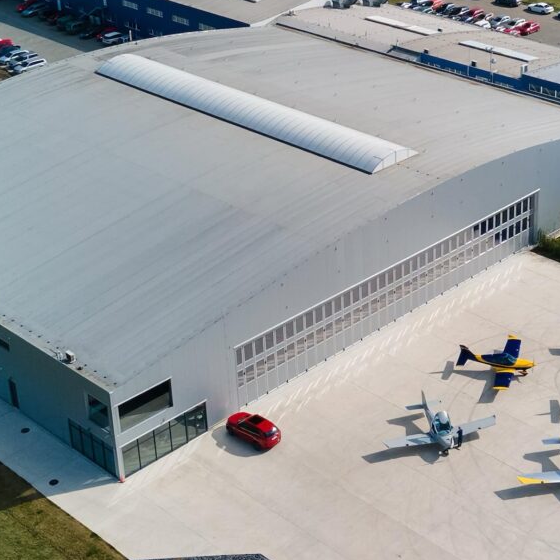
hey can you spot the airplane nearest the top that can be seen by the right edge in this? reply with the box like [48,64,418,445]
[457,335,537,389]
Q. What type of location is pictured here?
airport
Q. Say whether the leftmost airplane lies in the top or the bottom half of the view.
bottom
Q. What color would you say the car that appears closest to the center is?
red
